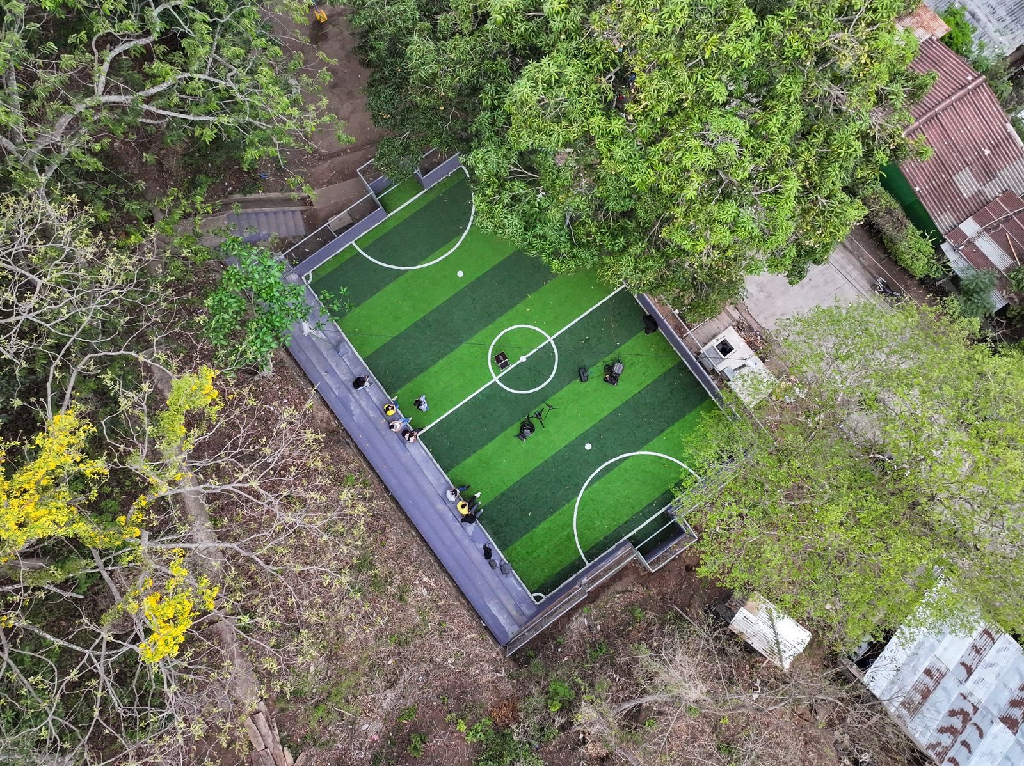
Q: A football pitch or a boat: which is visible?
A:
football pitch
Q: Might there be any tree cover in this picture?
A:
Yes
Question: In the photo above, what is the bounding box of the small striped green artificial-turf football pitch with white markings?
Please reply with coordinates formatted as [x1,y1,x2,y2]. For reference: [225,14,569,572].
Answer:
[302,133,749,606]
